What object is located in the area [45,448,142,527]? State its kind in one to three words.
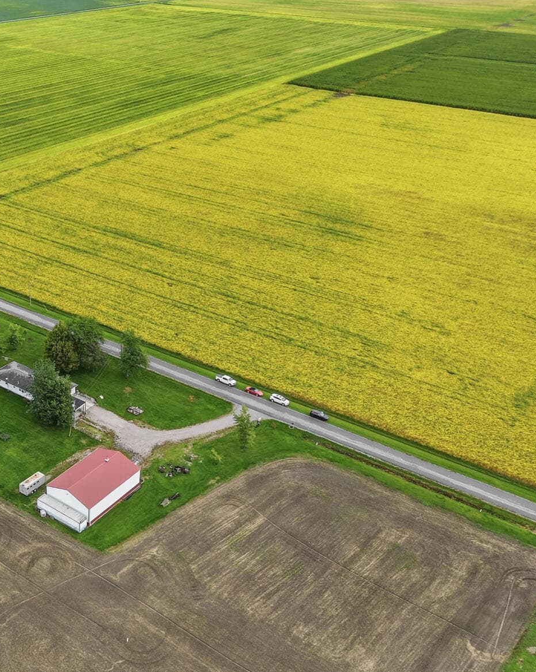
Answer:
barn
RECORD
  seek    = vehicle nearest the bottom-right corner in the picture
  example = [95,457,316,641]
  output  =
[308,407,330,421]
